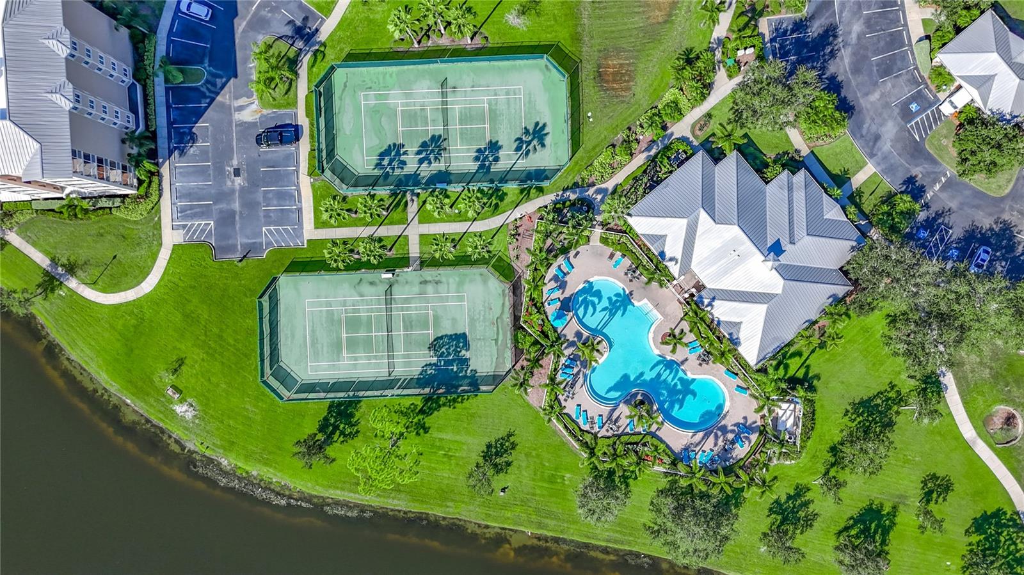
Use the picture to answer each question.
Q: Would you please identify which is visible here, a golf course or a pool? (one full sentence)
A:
There is a pool in the scene.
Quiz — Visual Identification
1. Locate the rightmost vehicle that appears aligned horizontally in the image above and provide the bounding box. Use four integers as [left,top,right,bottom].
[254,128,294,145]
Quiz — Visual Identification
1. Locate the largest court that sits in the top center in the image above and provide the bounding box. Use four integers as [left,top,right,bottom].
[318,58,570,193]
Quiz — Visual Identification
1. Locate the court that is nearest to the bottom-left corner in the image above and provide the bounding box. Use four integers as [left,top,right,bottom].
[261,268,513,400]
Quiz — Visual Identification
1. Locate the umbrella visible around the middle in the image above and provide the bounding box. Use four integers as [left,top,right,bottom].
[550,309,569,328]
